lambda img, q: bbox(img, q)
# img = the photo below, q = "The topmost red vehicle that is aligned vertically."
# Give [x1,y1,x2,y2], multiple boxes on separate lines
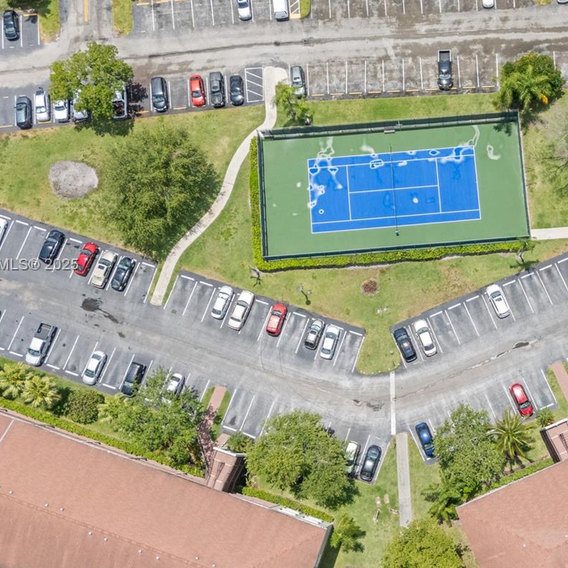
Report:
[190,76,206,108]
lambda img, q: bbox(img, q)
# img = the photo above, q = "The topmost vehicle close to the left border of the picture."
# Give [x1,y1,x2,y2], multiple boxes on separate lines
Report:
[2,9,20,41]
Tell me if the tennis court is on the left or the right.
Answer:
right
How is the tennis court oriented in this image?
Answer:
horizontally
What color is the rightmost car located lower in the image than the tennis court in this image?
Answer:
red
